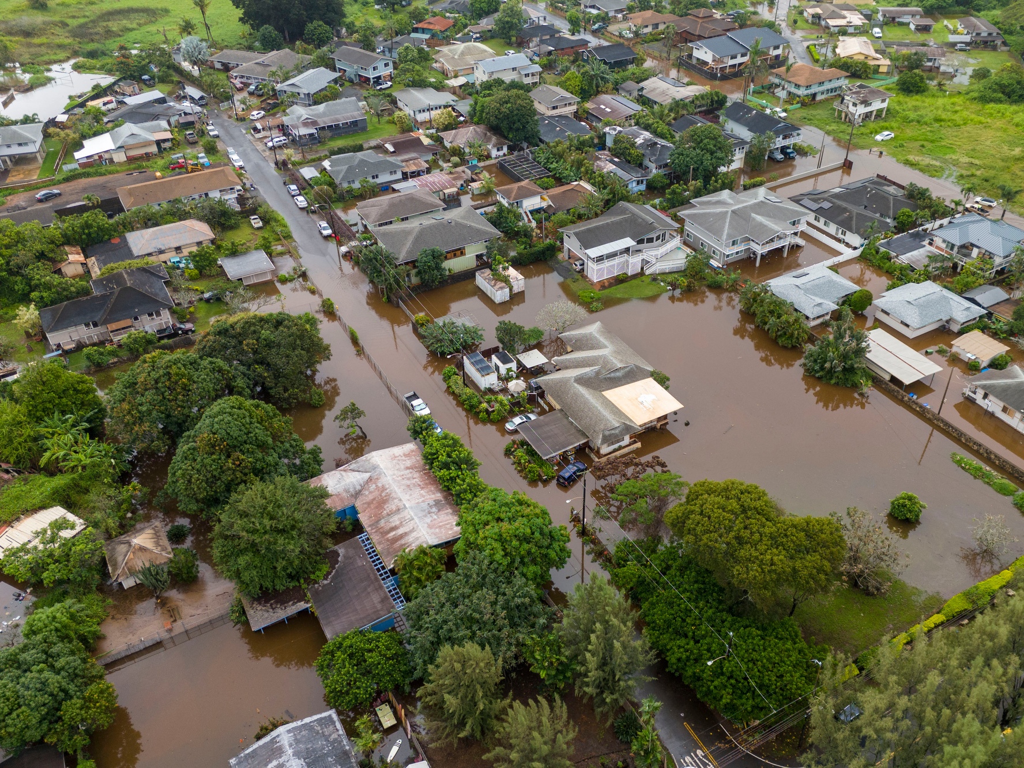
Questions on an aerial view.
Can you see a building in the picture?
Yes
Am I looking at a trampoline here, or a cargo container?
cargo container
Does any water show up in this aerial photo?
Yes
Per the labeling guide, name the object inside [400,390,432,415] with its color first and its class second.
white truck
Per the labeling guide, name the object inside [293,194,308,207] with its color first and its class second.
white vehicle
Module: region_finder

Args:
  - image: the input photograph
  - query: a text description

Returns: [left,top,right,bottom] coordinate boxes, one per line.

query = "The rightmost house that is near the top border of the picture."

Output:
[945,14,1005,48]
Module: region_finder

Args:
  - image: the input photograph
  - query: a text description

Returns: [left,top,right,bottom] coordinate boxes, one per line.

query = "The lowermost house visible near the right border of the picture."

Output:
[964,365,1024,440]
